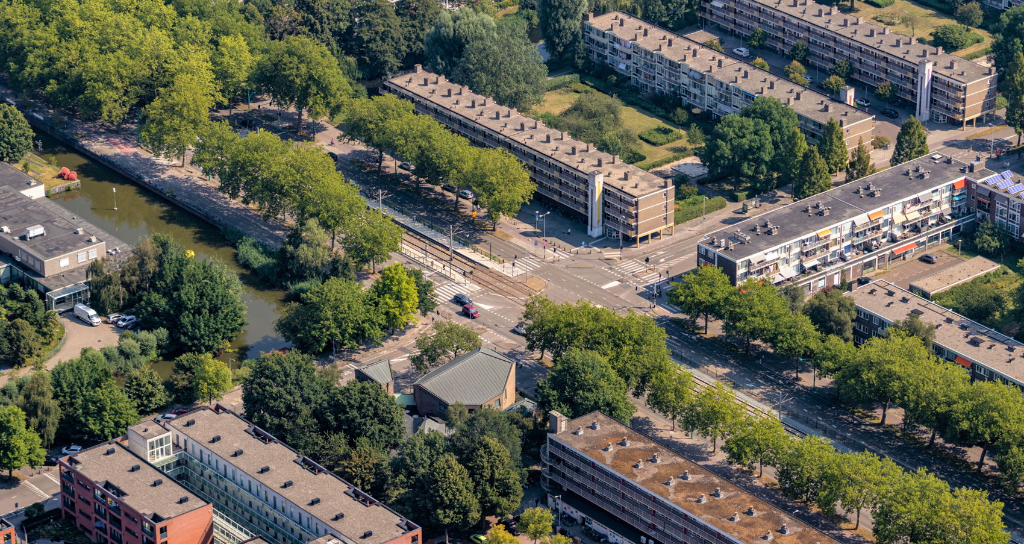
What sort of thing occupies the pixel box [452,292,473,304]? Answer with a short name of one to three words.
vehicle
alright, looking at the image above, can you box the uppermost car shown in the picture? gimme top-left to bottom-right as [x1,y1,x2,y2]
[732,46,748,58]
